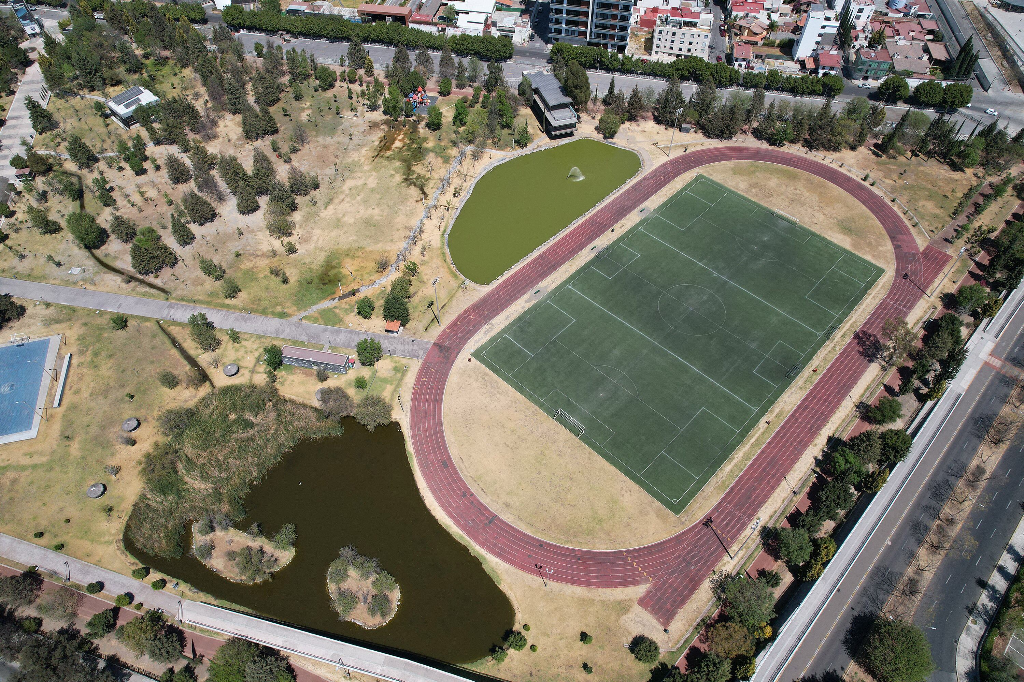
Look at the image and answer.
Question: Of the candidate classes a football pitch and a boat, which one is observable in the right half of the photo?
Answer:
football pitch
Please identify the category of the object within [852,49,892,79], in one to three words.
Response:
building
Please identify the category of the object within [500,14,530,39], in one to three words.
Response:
house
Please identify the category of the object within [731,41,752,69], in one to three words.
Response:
house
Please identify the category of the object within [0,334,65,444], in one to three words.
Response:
sports court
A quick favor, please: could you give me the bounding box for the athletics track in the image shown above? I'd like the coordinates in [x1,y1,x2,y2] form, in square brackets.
[407,146,953,628]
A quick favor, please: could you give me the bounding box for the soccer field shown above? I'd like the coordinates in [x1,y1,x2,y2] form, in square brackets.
[469,173,886,518]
